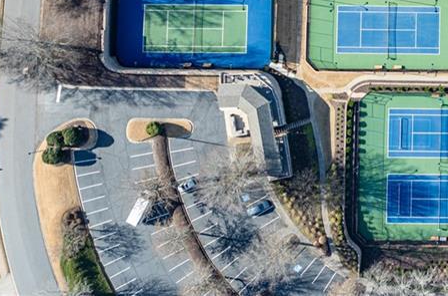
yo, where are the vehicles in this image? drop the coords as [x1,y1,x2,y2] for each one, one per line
[249,202,271,215]
[177,177,198,192]
[121,198,147,230]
